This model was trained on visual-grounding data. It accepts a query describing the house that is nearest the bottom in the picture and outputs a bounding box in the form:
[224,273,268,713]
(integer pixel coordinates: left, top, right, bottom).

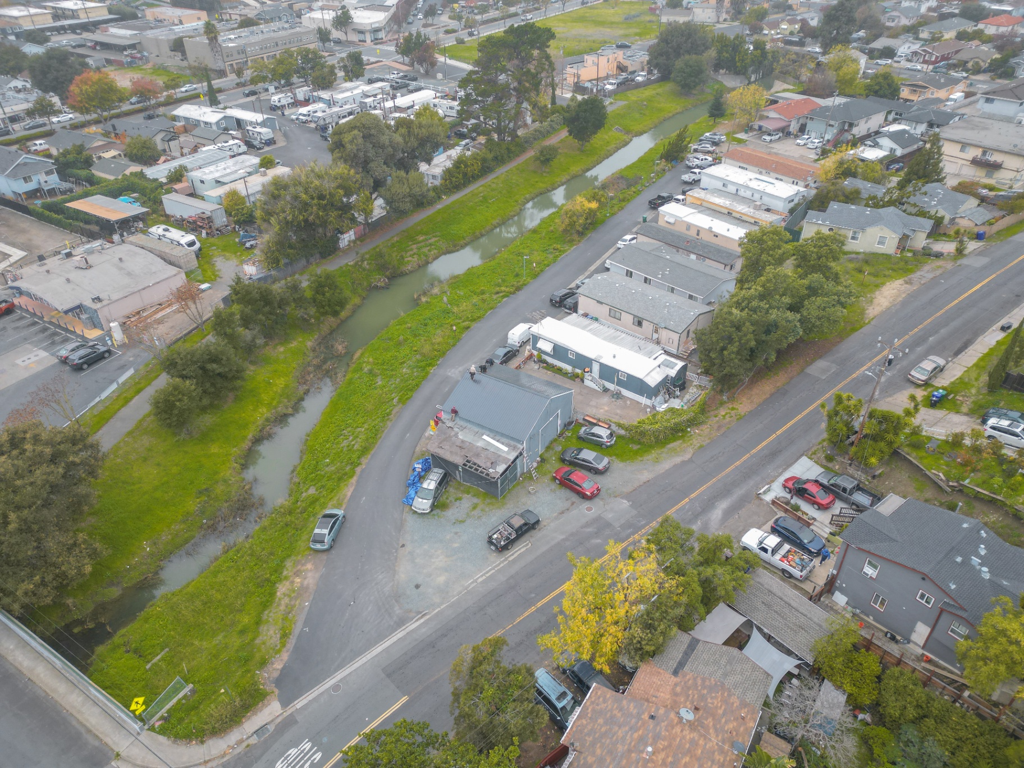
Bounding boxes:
[561,629,773,768]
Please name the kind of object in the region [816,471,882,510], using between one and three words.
truck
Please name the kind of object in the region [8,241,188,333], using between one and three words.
building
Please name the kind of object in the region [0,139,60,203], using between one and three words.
house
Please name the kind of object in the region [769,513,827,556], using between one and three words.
car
